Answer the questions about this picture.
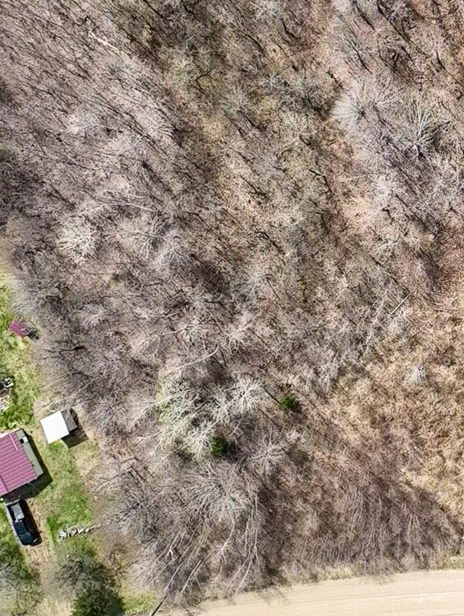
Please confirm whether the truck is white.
No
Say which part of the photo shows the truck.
bottom left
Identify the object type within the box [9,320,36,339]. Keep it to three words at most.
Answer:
shed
